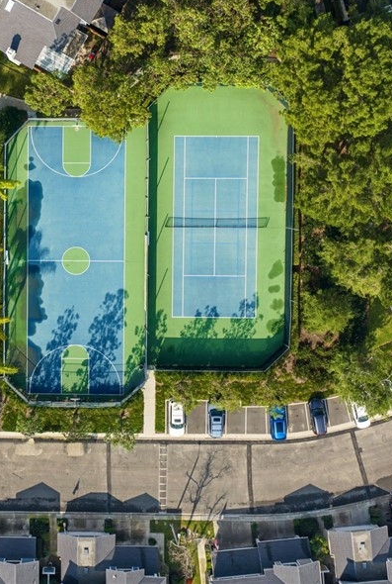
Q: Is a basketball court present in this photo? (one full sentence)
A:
Yes, there is a basketball court in the image.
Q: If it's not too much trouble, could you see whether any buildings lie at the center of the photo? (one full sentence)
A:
No, looking at the center of the photo, there is no building.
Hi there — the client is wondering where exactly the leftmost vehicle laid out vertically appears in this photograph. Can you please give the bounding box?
[169,401,186,436]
